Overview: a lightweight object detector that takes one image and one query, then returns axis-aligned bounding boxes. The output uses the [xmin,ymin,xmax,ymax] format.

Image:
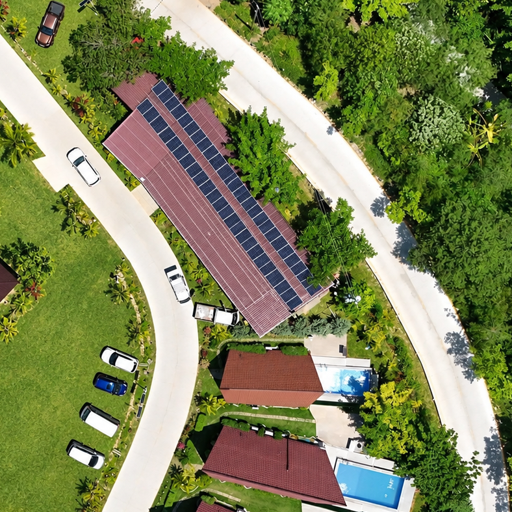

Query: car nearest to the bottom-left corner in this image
[66,441,106,467]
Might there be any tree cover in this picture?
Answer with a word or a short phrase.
Yes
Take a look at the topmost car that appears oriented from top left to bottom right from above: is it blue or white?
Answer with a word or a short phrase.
white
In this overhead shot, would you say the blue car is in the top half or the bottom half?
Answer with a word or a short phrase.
bottom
